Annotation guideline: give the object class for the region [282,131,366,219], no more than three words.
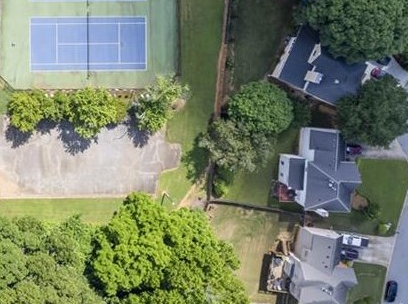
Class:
house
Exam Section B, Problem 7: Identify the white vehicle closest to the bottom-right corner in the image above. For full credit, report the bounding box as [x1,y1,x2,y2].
[340,235,370,248]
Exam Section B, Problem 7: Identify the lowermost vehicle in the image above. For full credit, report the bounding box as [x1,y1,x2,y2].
[384,279,399,304]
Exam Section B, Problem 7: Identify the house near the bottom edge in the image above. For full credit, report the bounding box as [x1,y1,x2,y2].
[283,229,363,304]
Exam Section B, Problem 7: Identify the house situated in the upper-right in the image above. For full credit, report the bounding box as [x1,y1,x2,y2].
[271,25,373,112]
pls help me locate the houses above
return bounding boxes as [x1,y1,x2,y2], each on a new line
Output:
[271,25,373,112]
[282,131,366,219]
[283,229,363,304]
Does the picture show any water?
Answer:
No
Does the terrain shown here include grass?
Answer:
Yes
